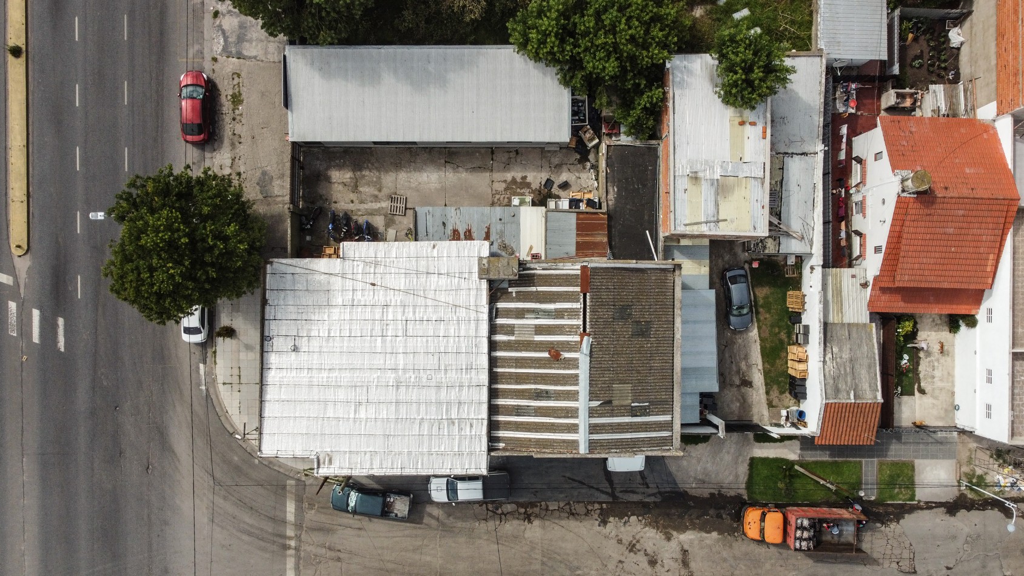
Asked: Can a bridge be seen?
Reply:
No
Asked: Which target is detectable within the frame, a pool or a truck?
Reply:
truck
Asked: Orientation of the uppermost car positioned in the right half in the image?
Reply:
vertically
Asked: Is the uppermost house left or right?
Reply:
right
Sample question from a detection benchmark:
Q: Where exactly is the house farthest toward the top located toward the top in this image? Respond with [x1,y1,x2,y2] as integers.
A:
[803,0,887,72]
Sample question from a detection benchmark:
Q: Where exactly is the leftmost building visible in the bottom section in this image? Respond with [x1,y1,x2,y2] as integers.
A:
[257,242,490,476]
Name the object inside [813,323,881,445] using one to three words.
building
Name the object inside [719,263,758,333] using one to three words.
car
